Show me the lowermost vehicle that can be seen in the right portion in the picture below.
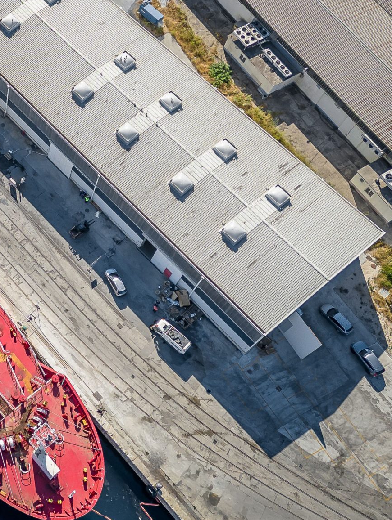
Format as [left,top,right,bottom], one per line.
[348,342,387,380]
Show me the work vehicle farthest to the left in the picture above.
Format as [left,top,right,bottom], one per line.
[72,217,95,237]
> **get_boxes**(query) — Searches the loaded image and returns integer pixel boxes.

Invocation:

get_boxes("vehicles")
[152,319,194,359]
[318,304,355,340]
[348,342,387,380]
[101,269,132,302]
[72,217,95,237]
